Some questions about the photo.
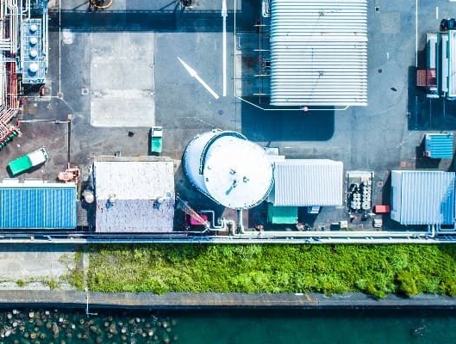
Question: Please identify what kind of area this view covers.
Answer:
industrial area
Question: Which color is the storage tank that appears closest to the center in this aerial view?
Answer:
white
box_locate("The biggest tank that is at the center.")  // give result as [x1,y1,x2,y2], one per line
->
[176,124,279,211]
